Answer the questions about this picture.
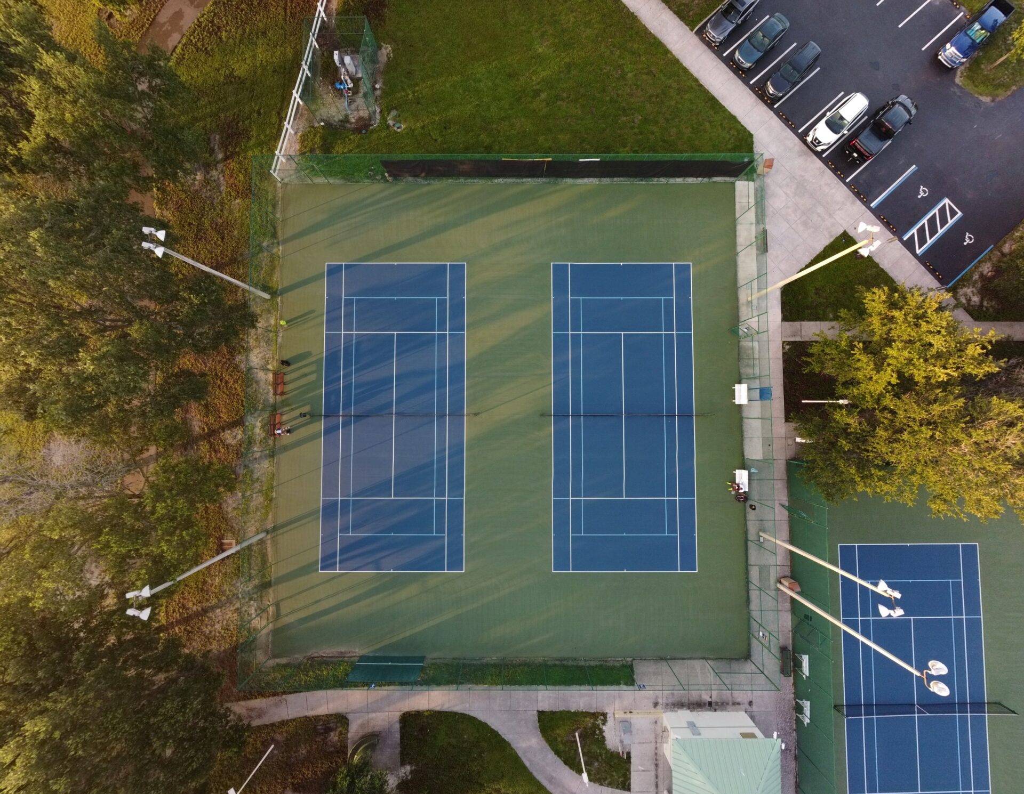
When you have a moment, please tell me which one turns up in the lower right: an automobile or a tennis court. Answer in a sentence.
You can see a tennis court in the lower right.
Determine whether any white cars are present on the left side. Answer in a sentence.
No, there's no white car to be seen on the left side.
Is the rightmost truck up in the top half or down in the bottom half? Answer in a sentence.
You can find the rightmost truck in the top half.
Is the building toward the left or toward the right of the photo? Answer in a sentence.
The building appears in the right half of the scene.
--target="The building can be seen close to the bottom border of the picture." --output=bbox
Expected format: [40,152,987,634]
[663,711,787,794]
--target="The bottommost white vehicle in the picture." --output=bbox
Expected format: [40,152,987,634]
[807,92,873,154]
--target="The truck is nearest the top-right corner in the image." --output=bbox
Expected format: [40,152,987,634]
[933,0,1013,73]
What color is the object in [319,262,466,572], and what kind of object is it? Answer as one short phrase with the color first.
blue tennis court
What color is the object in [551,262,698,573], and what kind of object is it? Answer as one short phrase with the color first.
blue tennis court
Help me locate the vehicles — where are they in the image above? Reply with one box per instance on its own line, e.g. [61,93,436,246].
[843,95,920,165]
[704,0,765,47]
[734,14,795,73]
[765,43,828,106]
[807,92,873,154]
[933,0,1013,73]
